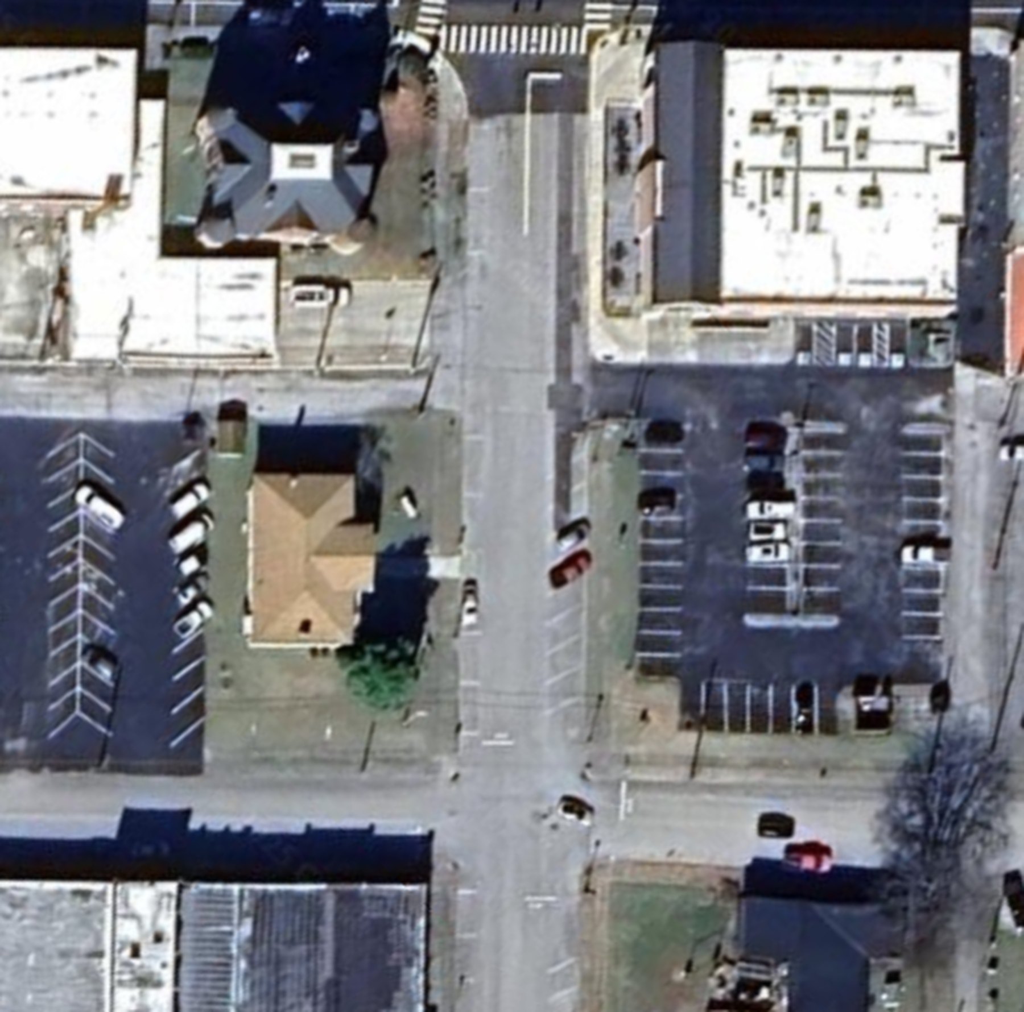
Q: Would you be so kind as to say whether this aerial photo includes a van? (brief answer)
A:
Yes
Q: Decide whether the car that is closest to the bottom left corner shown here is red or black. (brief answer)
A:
black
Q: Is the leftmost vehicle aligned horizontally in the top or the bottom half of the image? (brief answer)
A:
top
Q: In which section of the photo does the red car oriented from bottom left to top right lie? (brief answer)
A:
center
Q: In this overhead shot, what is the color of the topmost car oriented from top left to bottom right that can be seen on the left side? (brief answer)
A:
white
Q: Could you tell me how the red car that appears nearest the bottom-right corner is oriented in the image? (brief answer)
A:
from side to side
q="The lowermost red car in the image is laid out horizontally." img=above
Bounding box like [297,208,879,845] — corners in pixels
[785,847,831,867]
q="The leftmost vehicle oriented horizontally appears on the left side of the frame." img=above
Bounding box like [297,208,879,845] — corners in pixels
[290,284,342,307]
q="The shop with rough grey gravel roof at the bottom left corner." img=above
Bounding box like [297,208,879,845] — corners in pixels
[0,880,114,1012]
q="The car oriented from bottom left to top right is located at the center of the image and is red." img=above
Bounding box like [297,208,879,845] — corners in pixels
[548,552,594,587]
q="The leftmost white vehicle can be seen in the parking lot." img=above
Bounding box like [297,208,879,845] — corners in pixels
[77,484,123,528]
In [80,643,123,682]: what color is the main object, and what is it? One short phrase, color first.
black car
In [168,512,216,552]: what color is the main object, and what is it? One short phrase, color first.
white van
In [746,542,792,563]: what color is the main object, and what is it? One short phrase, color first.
white car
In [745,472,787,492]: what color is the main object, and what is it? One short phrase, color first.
black car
